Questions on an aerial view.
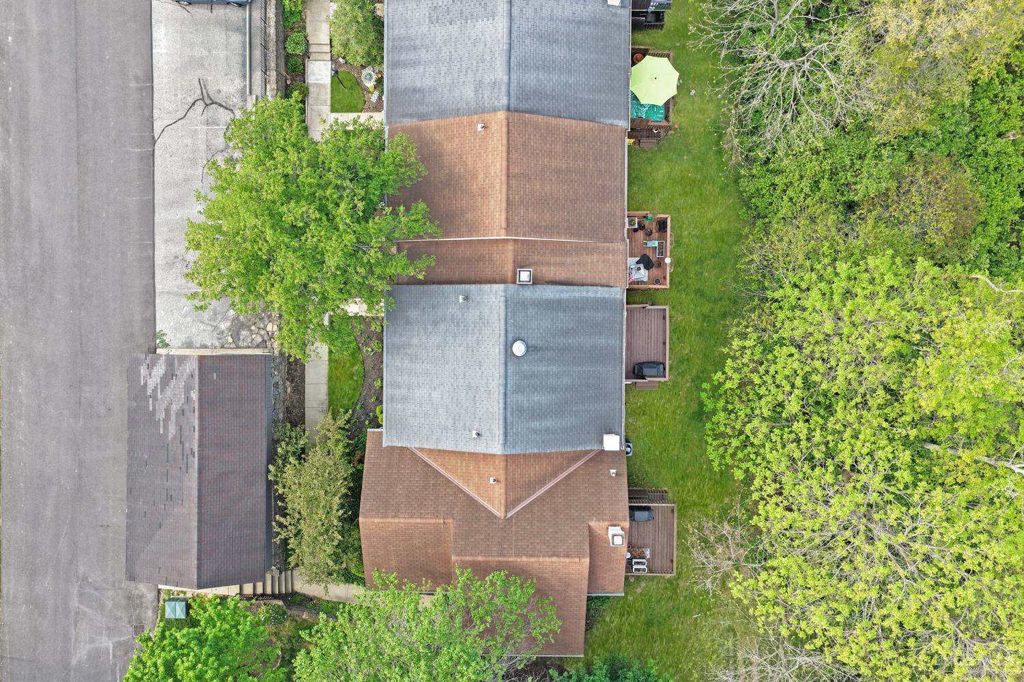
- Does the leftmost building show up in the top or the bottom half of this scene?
bottom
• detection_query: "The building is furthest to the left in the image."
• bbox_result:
[126,354,272,590]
